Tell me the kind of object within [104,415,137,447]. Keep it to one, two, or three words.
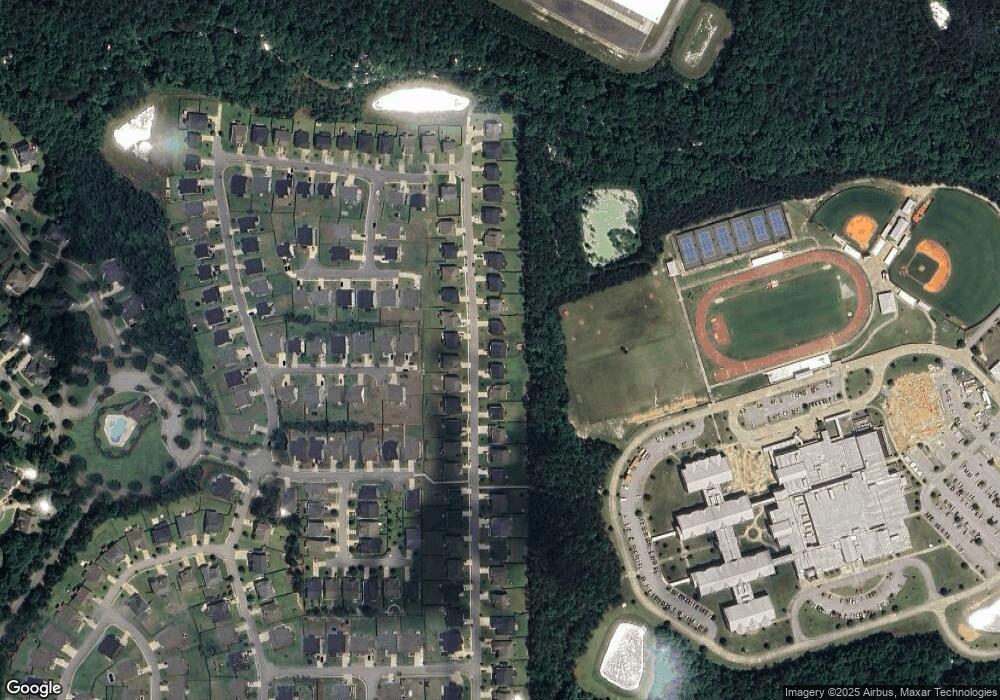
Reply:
swimming pool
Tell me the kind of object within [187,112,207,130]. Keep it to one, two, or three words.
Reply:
house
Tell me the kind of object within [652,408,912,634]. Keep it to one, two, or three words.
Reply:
building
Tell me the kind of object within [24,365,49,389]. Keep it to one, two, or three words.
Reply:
house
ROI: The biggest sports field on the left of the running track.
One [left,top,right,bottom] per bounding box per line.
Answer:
[558,277,706,426]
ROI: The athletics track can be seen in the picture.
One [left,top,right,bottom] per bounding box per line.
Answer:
[695,248,872,377]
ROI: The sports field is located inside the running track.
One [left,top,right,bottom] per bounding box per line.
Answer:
[720,271,840,351]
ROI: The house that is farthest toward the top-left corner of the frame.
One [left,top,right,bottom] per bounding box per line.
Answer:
[16,140,34,167]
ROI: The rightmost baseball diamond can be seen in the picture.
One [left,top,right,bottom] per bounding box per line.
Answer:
[889,188,1000,329]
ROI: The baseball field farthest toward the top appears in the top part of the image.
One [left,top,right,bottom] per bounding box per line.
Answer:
[811,187,902,253]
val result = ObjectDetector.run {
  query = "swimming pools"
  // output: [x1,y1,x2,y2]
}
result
[104,415,137,447]
[105,671,115,684]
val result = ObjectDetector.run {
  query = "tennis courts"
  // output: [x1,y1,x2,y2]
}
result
[751,215,770,242]
[697,230,716,259]
[680,237,698,265]
[769,210,787,237]
[732,220,751,248]
[715,226,733,253]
